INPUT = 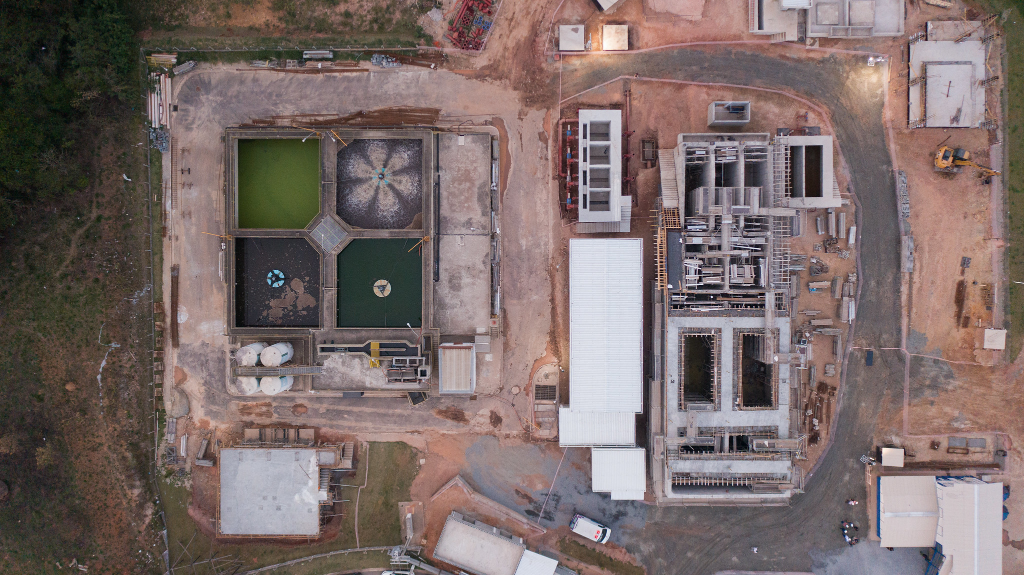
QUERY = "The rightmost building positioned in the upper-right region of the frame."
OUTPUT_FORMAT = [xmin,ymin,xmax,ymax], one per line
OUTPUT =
[905,8,1000,128]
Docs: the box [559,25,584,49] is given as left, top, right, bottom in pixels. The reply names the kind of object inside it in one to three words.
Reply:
shed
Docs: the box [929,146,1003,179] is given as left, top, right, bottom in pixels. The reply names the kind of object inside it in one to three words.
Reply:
work vehicle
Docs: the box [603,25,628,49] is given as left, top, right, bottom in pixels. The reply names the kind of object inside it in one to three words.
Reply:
shed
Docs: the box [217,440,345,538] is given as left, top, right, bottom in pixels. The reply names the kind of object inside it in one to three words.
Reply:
building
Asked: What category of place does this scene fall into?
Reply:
industrial area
